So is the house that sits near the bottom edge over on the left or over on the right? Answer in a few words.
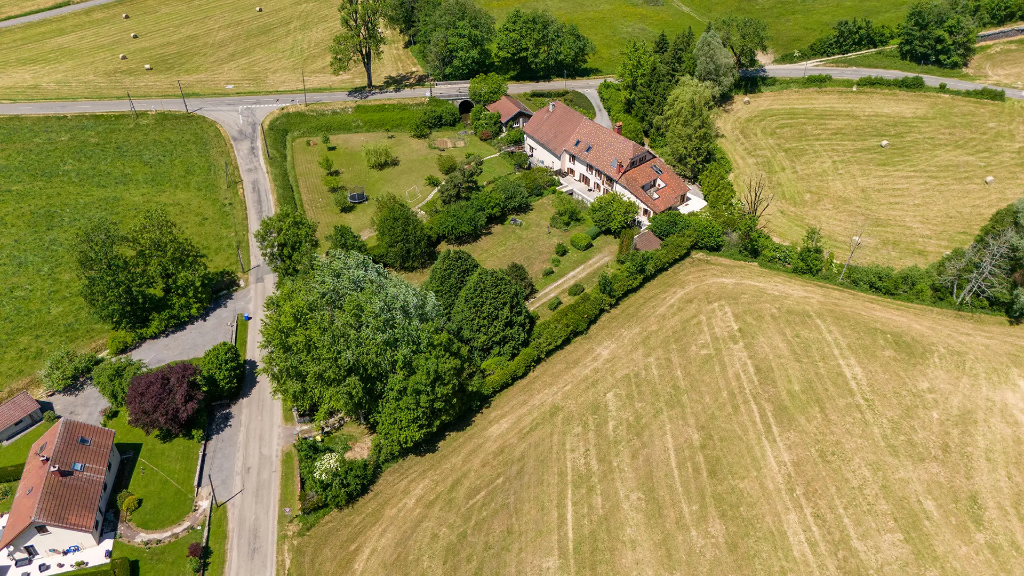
left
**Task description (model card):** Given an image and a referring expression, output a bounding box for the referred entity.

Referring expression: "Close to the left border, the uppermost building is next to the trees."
[0,388,44,443]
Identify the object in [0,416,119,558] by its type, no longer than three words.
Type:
house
